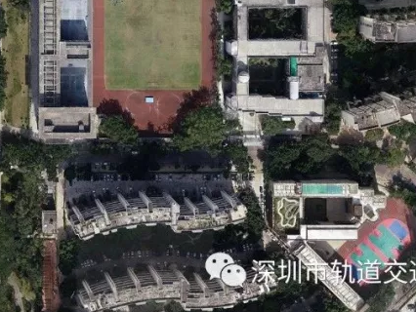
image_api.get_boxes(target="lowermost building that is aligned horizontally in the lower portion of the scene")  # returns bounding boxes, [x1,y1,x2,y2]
[79,257,274,312]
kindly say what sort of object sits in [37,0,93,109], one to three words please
building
